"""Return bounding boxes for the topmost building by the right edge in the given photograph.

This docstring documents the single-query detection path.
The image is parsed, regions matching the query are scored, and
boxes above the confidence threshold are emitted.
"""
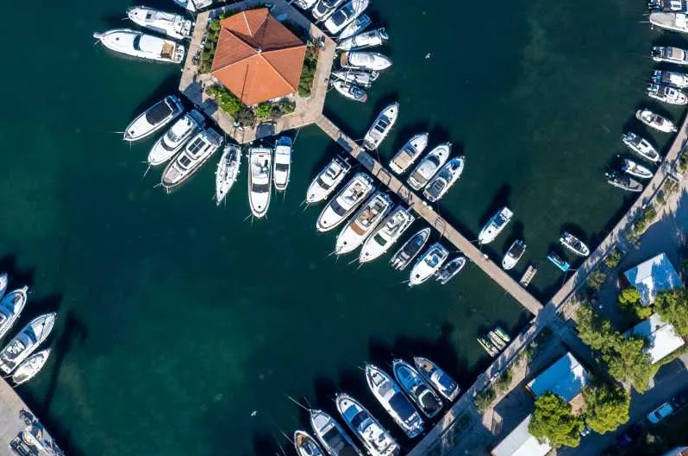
[618,250,683,306]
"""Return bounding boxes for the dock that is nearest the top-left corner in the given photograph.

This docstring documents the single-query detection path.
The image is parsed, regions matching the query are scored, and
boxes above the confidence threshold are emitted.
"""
[179,0,337,144]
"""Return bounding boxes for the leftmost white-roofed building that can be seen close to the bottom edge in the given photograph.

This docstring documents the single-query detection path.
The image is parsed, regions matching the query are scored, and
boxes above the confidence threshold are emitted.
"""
[487,408,553,456]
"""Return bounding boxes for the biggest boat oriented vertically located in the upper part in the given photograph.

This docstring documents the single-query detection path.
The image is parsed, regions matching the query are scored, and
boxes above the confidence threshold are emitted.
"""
[247,137,274,223]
